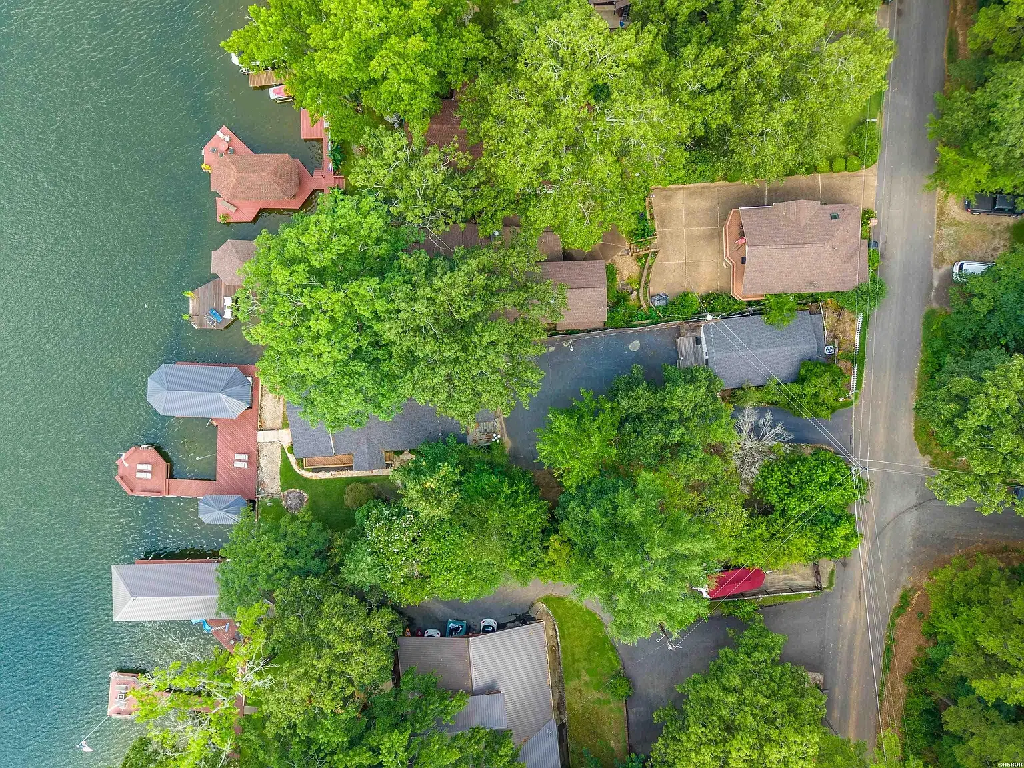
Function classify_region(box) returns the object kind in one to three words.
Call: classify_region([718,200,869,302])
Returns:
house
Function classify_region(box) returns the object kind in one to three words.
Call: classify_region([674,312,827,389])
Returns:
house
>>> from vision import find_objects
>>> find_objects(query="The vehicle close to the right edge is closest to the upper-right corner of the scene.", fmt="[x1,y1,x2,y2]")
[968,188,1024,212]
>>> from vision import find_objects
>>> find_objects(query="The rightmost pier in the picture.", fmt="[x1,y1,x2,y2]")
[301,109,339,194]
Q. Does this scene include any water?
Yes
